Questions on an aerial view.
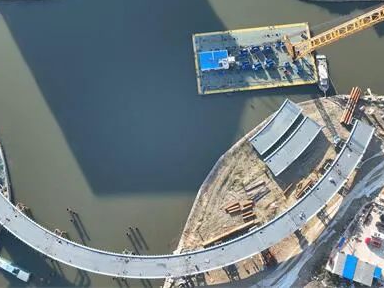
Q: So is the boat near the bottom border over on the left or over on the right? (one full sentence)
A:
It is on the left.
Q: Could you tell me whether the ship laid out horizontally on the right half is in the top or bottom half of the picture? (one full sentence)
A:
It is in the top half that the ship laid out horizontally on the right half appears.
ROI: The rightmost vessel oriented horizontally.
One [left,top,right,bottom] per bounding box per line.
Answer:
[191,5,384,95]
